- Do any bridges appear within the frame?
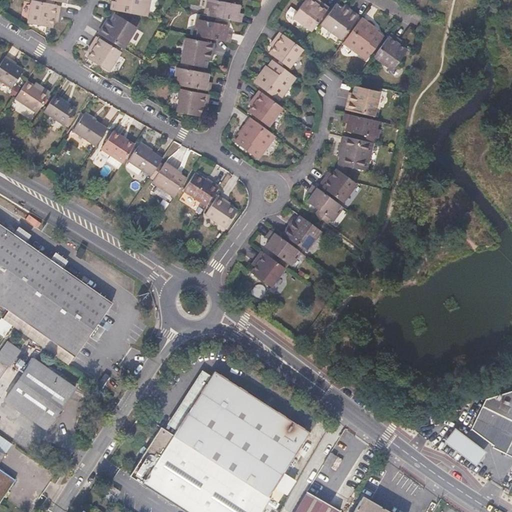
No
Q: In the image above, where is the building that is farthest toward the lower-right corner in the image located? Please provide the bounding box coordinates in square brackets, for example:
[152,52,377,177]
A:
[471,394,512,457]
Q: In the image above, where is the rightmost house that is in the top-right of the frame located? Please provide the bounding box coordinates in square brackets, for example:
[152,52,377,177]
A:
[374,34,408,72]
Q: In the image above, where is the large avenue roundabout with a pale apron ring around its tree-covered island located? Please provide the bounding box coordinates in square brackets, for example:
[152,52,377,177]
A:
[162,270,226,334]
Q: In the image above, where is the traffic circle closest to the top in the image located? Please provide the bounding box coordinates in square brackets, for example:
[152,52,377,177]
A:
[248,170,292,216]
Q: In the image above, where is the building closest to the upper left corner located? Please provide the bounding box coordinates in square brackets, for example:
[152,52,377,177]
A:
[26,1,60,28]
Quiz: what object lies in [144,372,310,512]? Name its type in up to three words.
warehouse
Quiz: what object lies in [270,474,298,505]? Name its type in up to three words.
shed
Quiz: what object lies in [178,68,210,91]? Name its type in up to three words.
house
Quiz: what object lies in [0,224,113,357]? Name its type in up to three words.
building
